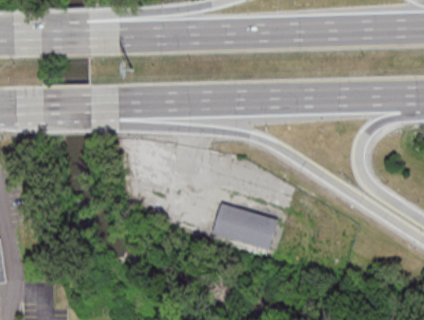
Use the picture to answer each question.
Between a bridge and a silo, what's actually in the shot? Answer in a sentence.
The one in the frame is a bridge.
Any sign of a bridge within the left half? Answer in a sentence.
Yes, looking within the left half, one can make out a bridge.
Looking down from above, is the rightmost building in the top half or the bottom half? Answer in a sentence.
The rightmost building is in the bottom half of the image.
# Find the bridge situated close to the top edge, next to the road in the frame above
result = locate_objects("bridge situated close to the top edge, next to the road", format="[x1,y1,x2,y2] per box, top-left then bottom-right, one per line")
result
[42,6,92,58]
